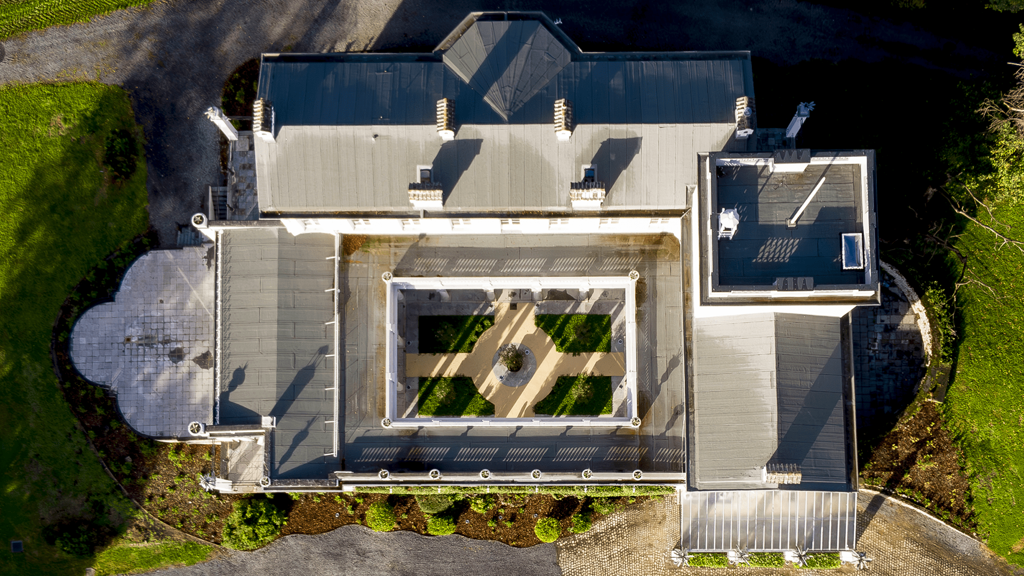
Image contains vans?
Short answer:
No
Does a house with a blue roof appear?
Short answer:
No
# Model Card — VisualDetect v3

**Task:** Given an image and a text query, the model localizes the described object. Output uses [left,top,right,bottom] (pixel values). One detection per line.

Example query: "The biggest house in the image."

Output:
[203,10,883,553]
